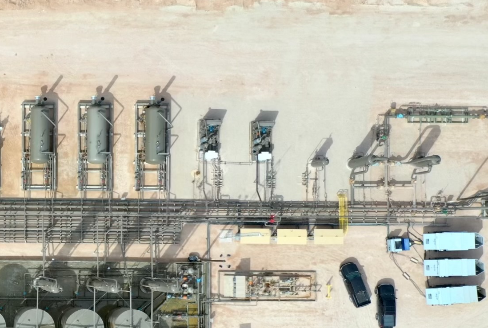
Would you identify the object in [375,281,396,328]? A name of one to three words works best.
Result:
truck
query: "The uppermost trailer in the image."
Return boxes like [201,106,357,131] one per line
[425,232,483,251]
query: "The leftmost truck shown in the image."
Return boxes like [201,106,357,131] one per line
[339,262,371,307]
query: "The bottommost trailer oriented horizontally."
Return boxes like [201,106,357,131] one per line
[427,285,487,305]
